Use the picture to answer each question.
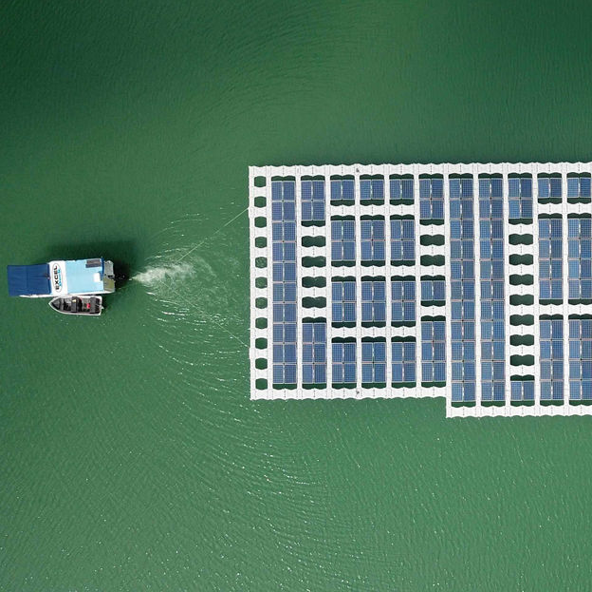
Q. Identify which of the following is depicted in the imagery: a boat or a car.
boat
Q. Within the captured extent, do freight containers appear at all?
No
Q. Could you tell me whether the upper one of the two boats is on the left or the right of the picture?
left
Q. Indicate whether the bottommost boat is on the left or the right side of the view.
left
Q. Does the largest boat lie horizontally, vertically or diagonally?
horizontally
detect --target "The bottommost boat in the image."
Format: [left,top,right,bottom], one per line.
[47,295,107,316]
